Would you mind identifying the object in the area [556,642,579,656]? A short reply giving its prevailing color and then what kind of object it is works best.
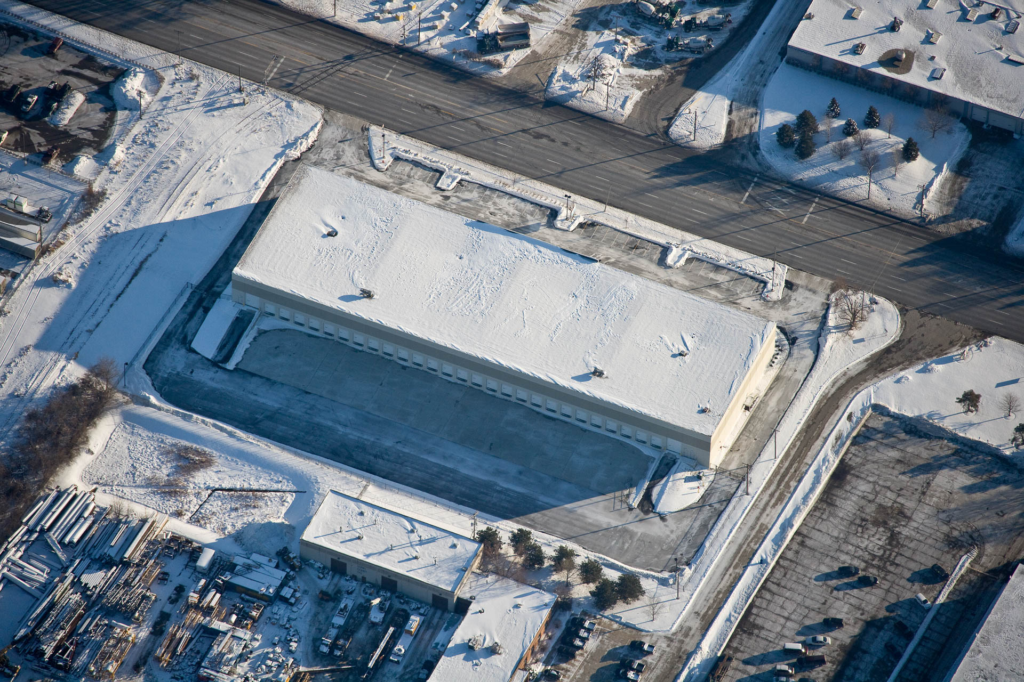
black car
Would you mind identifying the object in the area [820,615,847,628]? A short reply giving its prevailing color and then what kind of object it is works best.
black vehicle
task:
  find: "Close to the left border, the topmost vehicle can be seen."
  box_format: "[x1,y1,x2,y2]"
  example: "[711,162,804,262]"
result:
[47,27,66,53]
